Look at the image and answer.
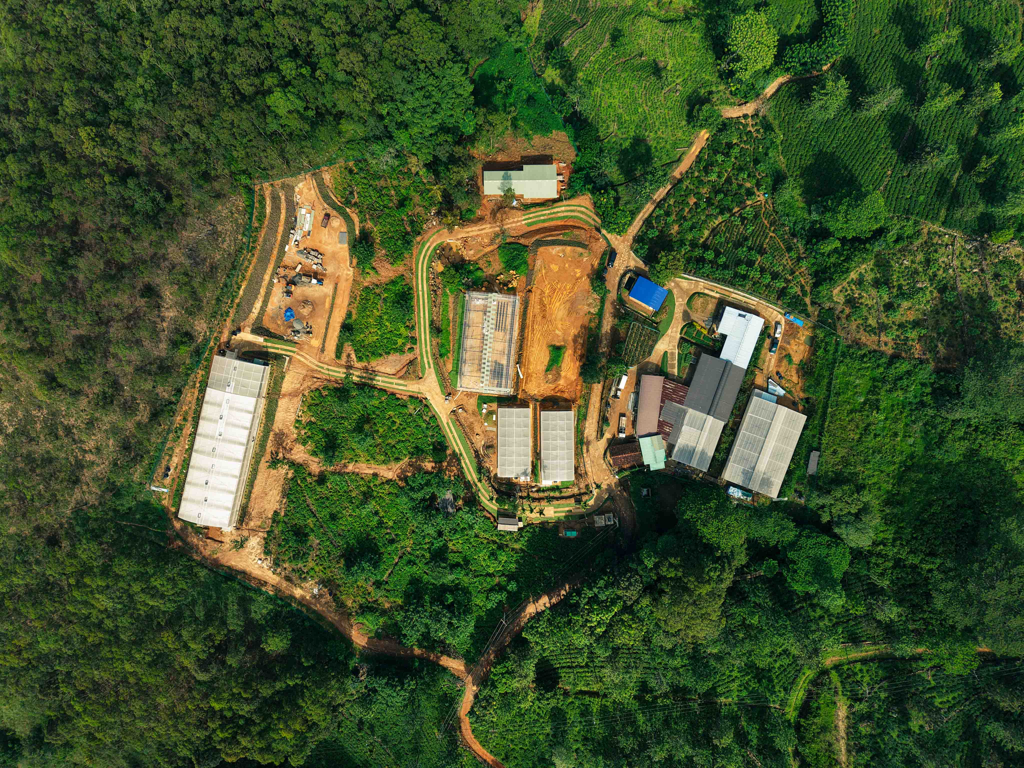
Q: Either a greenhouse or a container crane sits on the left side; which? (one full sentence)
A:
Looking on the left side, you will find a greenhouse.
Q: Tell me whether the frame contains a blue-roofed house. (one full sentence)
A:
Yes, I can see a blue-roofed house in this picture.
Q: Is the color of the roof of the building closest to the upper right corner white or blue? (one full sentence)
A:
In this view, the roof of the building closest to the upper right corner is white.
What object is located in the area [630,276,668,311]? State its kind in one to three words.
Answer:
house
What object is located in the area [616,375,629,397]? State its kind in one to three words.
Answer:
vehicle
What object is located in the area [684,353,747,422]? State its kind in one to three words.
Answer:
building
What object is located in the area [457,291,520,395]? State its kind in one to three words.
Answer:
greenhouse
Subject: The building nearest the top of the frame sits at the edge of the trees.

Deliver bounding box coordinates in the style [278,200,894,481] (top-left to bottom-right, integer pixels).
[484,165,557,201]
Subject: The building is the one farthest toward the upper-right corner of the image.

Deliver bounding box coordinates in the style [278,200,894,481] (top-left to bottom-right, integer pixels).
[716,306,765,369]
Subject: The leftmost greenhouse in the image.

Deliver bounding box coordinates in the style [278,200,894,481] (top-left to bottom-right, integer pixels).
[178,355,275,528]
